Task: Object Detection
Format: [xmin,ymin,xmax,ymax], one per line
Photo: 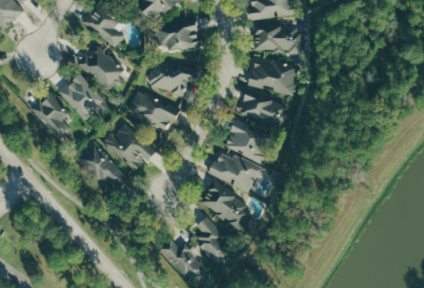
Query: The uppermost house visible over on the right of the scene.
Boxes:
[247,0,296,24]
